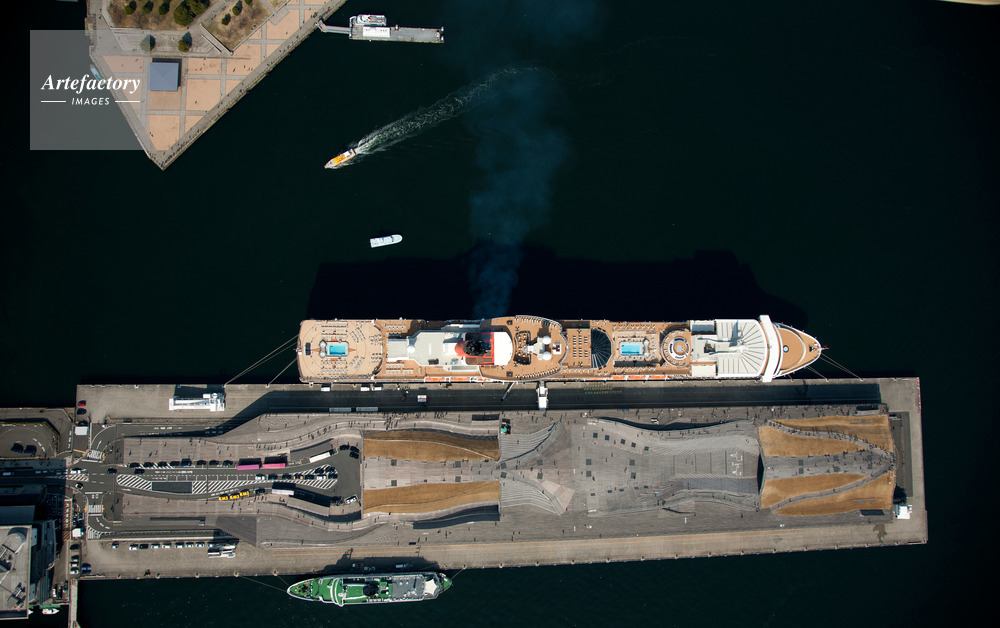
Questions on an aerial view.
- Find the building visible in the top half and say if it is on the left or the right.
left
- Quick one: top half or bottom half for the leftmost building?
bottom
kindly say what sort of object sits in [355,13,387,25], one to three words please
vessel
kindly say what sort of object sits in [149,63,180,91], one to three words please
building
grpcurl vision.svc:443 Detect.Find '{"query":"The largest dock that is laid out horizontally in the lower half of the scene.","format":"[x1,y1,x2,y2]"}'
[78,377,928,581]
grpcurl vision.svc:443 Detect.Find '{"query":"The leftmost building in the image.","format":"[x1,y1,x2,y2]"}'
[0,504,65,620]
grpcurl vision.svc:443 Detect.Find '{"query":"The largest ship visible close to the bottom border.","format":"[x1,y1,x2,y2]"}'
[288,572,451,607]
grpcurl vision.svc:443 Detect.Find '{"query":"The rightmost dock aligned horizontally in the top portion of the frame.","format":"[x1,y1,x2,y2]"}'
[348,14,443,44]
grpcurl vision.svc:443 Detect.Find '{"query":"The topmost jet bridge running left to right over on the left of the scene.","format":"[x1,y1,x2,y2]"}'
[165,394,229,411]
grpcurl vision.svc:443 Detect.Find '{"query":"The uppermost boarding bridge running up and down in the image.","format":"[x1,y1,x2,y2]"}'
[536,381,549,409]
